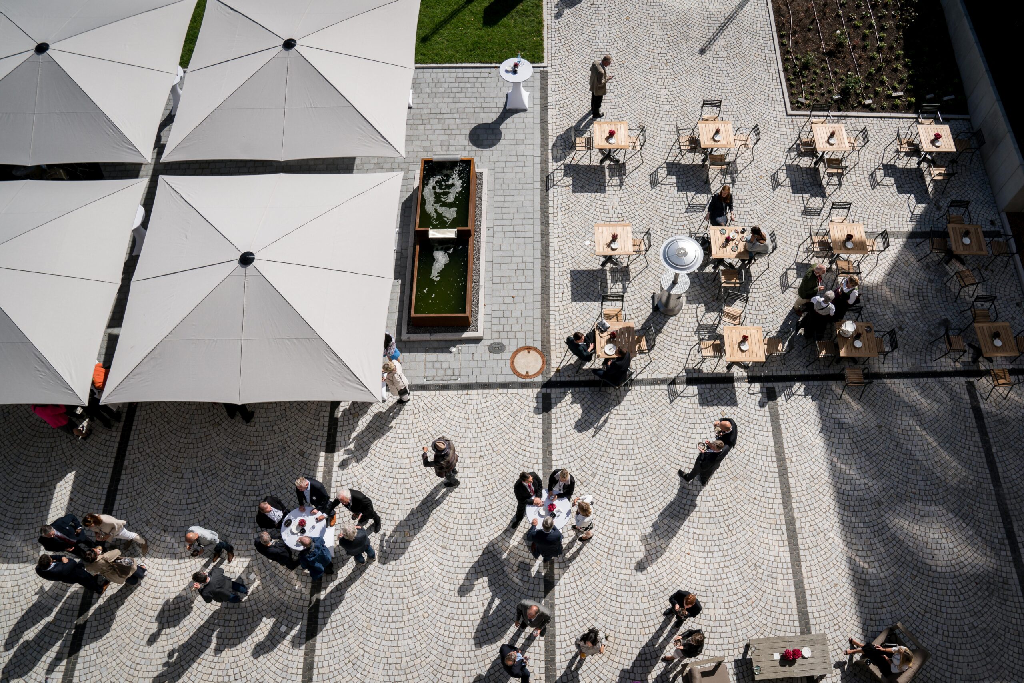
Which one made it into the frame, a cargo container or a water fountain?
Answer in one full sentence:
There is a water fountain in the scene.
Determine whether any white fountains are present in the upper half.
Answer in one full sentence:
No, no white fountain appears in the upper half.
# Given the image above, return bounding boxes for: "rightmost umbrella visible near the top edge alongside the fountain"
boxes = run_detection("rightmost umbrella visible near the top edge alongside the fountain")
[161,0,419,167]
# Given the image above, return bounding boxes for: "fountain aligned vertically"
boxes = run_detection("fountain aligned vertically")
[411,151,475,327]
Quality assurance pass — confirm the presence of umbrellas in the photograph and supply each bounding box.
[161,0,419,167]
[0,178,150,408]
[99,173,404,406]
[0,0,193,170]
